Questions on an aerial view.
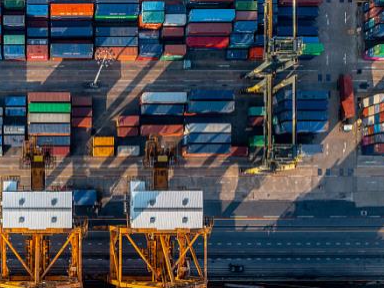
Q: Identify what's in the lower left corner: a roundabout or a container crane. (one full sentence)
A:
The feature located in the lower left corner is a container crane.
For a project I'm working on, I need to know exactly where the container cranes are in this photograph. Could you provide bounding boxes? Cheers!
[236,0,302,81]
[0,135,90,288]
[92,135,215,288]
[236,73,302,176]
